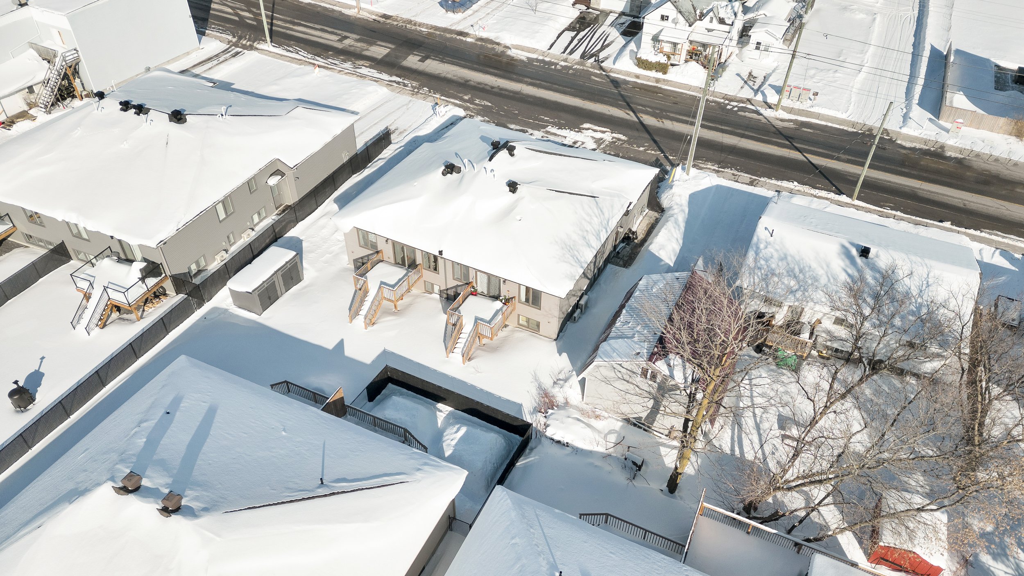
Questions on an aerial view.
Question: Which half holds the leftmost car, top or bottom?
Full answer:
It is in the top half that the leftmost car appears.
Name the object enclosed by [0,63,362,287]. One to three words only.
house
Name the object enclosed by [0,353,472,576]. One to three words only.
house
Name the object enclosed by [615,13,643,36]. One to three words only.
car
